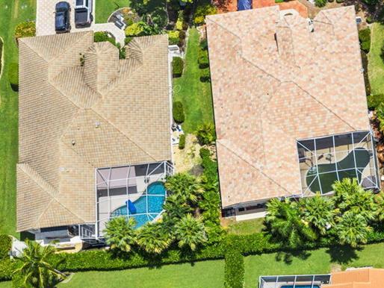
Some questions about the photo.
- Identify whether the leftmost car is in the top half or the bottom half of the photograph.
top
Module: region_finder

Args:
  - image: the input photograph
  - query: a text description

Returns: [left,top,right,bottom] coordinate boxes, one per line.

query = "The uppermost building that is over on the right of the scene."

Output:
[205,5,370,210]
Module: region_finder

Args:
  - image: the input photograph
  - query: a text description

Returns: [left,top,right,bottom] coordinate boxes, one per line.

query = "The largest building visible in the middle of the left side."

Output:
[16,30,176,232]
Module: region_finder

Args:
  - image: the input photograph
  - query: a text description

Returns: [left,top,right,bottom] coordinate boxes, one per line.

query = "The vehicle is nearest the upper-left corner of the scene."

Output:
[50,0,75,34]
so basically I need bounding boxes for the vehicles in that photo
[72,0,97,31]
[236,0,256,10]
[50,0,75,34]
